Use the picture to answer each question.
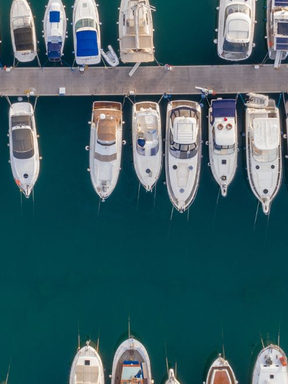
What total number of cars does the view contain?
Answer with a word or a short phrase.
none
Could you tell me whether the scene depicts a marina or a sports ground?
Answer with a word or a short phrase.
marina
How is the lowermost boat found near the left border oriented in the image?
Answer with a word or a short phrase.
up and down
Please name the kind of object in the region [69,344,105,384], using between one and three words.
boat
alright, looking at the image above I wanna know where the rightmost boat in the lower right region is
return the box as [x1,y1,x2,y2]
[252,346,288,384]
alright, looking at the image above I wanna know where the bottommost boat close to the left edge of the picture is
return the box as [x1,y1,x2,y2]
[9,97,39,198]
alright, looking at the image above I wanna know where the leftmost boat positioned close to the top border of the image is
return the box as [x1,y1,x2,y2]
[9,0,36,62]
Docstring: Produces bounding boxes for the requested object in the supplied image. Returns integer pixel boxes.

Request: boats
[9,97,39,198]
[133,102,163,193]
[163,100,201,212]
[69,344,105,384]
[244,100,283,216]
[9,0,36,62]
[43,0,67,60]
[242,92,268,108]
[217,0,256,61]
[72,0,101,65]
[206,357,235,384]
[89,102,123,199]
[209,100,239,198]
[264,0,288,59]
[117,0,154,62]
[101,43,118,62]
[164,366,180,384]
[111,337,151,384]
[252,346,288,384]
